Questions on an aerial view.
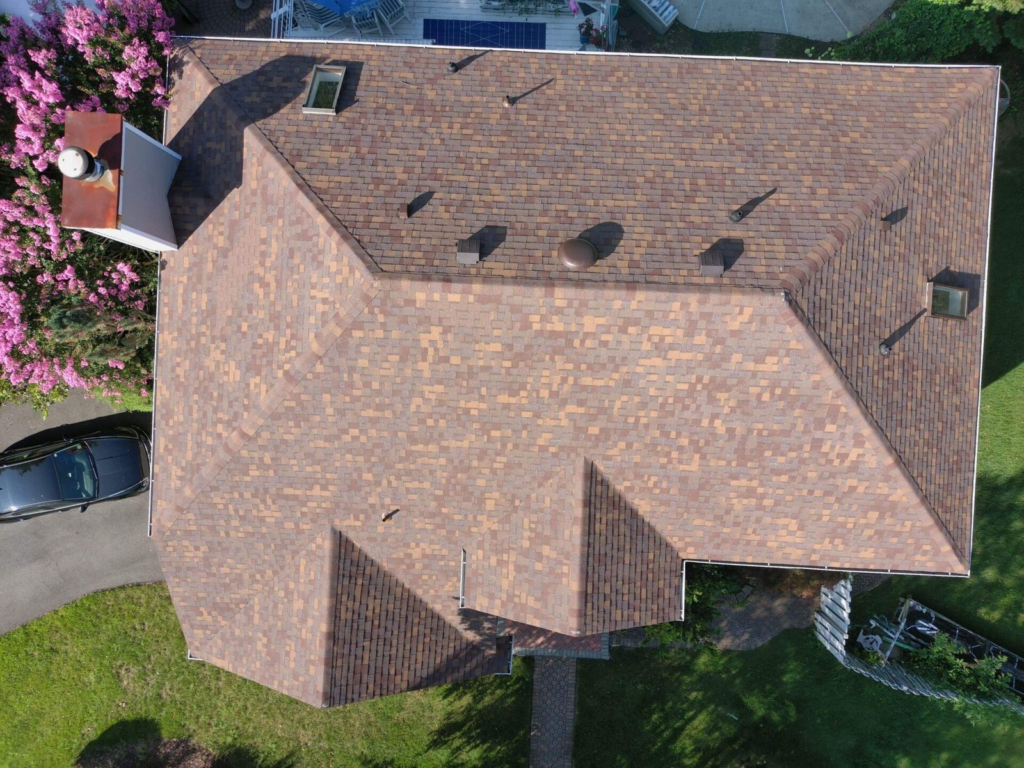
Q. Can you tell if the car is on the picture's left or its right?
left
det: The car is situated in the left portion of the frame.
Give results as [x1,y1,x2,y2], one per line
[0,419,151,519]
